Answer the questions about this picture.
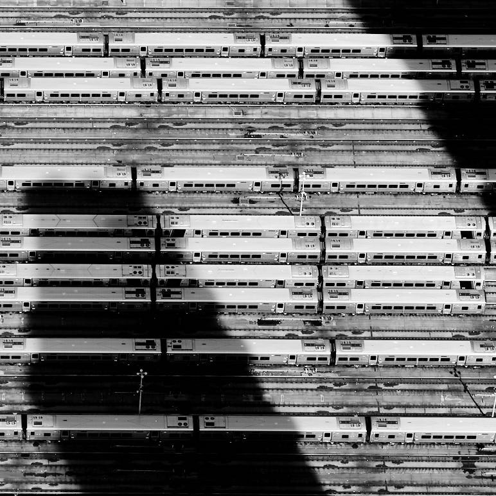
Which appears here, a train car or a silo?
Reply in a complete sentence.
The image shows a train car.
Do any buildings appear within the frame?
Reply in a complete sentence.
No, I find no building anywhere in the image.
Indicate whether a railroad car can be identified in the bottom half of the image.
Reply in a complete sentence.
Yes, a railroad car is visible in the bottom half of the image.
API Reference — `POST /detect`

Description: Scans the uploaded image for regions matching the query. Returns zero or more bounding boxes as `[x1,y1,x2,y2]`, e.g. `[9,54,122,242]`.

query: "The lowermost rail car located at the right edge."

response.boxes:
[366,415,496,445]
